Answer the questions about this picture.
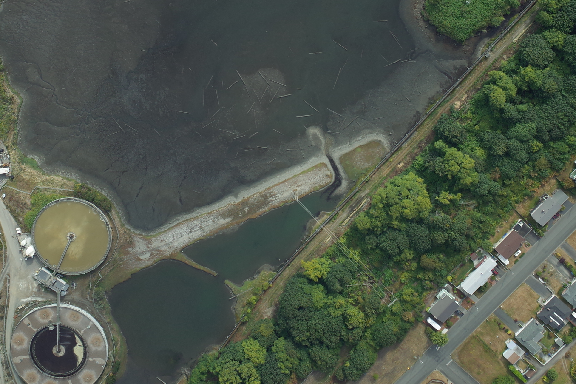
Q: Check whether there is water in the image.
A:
Yes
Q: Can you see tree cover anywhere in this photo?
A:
Yes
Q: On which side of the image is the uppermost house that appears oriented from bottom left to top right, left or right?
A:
right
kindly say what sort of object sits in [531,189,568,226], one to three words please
house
